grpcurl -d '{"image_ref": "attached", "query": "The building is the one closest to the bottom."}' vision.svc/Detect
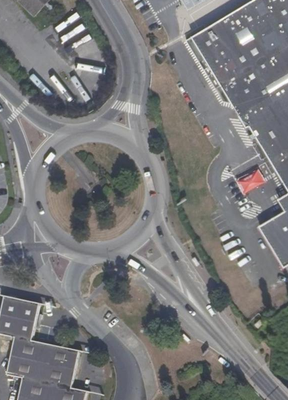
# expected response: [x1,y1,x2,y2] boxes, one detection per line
[8,336,88,400]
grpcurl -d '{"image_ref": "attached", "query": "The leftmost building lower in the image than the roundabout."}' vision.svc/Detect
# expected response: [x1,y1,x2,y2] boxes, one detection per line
[0,296,41,340]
